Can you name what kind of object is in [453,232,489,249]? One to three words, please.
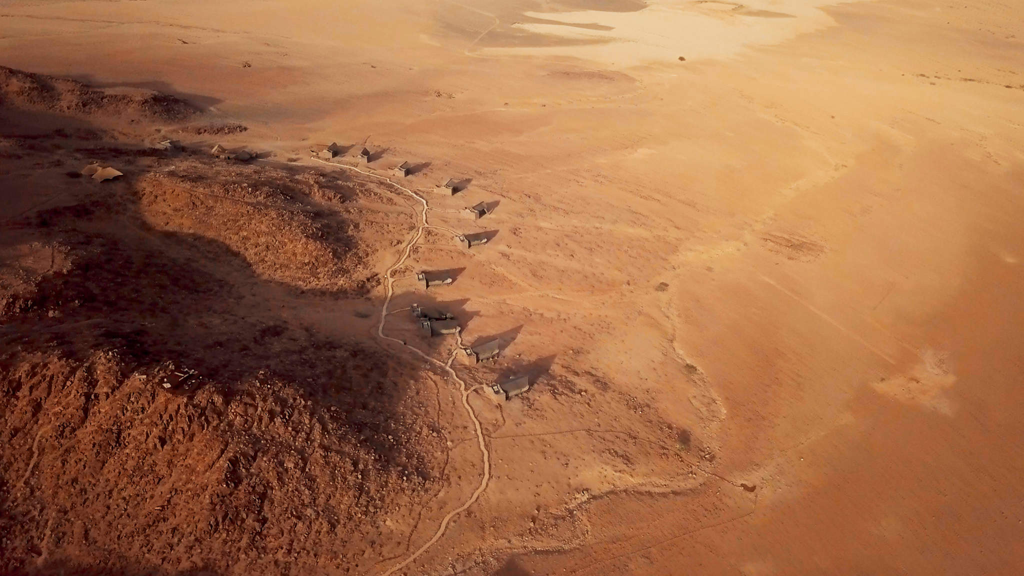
house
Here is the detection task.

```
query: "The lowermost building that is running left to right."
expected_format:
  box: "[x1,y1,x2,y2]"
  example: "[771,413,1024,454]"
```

[482,375,532,401]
